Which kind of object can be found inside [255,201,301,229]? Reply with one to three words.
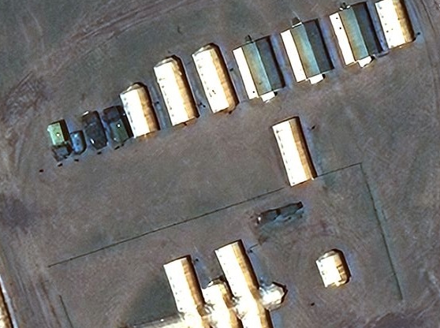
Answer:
trailer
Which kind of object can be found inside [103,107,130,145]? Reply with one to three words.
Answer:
truck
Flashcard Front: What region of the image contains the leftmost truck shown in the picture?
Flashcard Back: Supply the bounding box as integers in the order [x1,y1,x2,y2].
[45,122,70,161]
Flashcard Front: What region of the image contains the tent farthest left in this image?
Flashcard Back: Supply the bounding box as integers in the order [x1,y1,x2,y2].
[120,83,157,139]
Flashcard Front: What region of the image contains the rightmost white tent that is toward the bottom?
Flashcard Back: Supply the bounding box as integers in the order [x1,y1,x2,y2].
[317,249,349,288]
